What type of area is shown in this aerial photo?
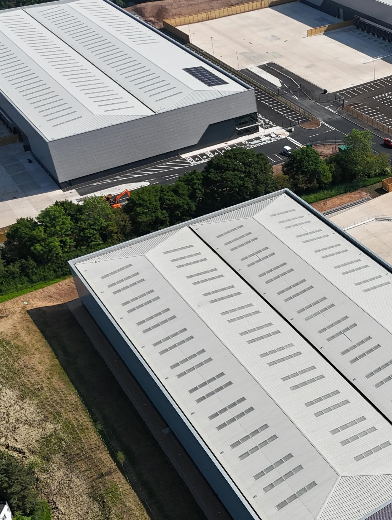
industrial area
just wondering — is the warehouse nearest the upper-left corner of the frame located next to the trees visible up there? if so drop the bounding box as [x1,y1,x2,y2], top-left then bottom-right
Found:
[0,0,264,189]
